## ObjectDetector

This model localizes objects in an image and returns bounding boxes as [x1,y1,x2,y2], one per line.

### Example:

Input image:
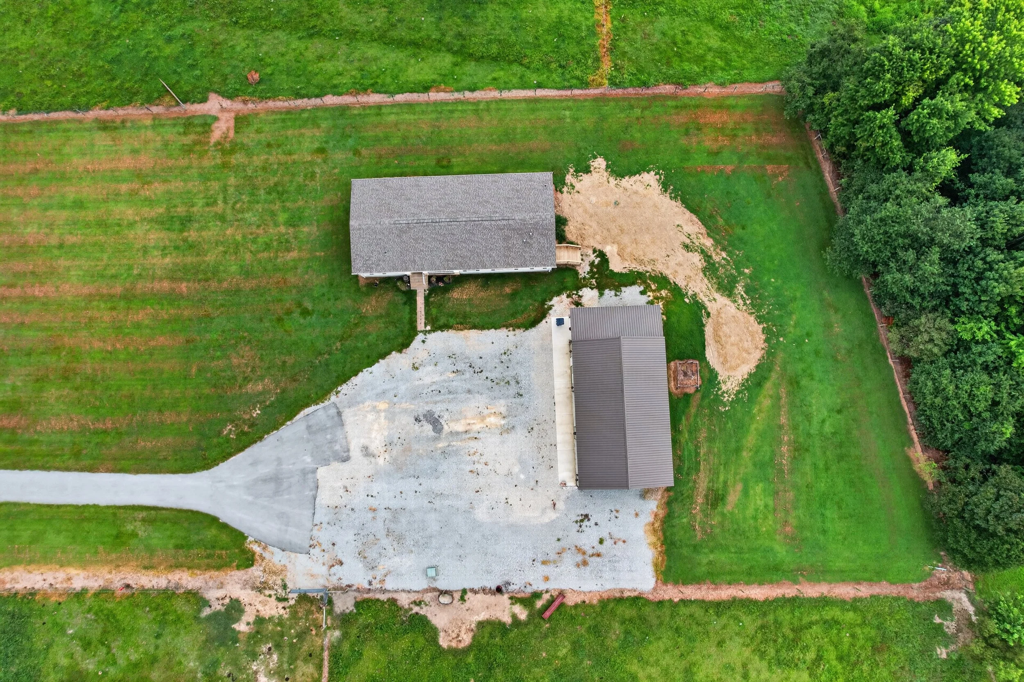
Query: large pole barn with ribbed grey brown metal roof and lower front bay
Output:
[567,305,674,490]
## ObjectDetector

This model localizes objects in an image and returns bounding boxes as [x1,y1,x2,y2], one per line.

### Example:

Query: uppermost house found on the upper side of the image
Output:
[348,171,556,281]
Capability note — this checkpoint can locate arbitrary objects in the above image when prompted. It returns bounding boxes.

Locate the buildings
[348,171,556,281]
[567,305,674,490]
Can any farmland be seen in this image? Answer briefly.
Yes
